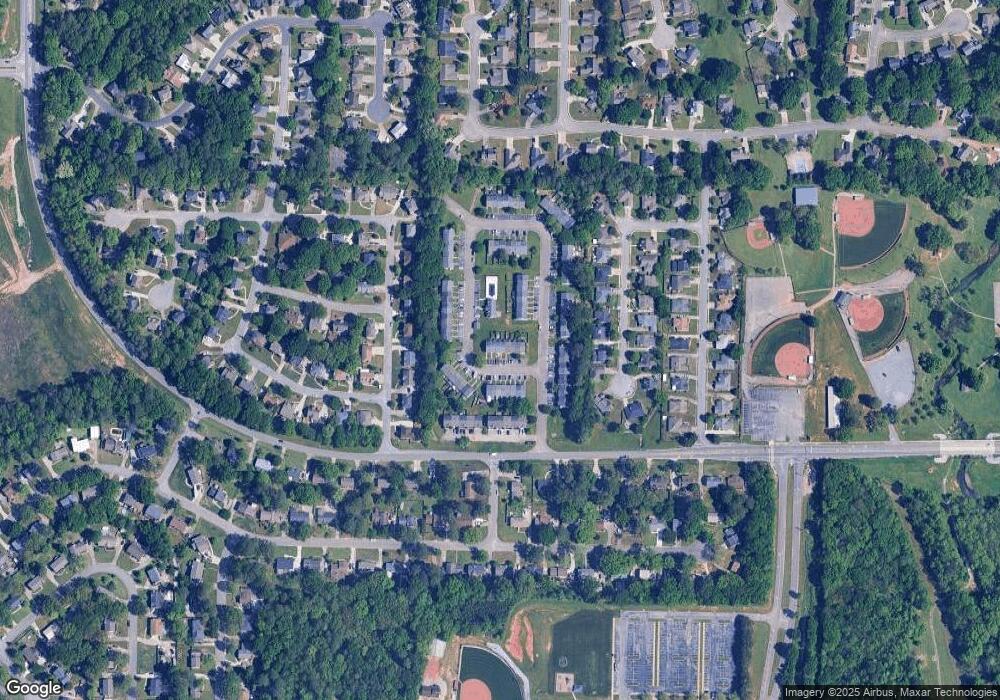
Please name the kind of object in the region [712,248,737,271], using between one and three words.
house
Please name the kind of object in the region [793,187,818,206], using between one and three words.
building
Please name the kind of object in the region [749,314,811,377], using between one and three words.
baseball field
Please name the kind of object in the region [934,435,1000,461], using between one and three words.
bridge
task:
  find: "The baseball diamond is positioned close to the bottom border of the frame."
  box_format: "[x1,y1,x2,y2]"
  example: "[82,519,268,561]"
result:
[461,645,523,700]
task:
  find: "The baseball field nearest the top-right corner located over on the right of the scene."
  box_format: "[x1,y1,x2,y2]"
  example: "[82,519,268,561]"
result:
[838,194,908,269]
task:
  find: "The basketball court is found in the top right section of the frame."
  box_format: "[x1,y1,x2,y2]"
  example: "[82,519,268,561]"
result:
[788,150,811,173]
